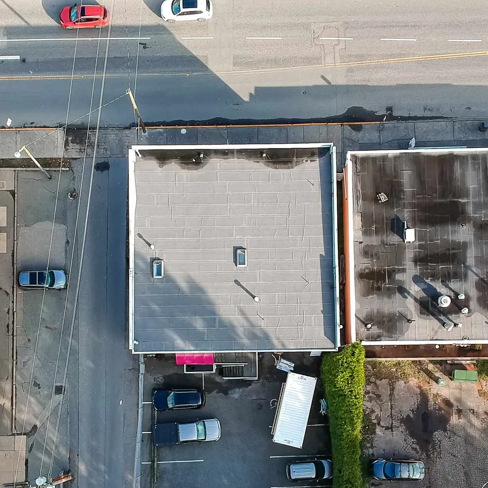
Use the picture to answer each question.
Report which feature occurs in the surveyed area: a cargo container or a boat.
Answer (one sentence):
Visible in the photo is a cargo container.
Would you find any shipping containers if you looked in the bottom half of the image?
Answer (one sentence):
Yes, I can see a shipping container in the bottom half of the image.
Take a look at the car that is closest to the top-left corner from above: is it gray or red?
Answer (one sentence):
The car that is closest to the top-left corner is red.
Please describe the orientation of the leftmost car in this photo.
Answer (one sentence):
I'd say the leftmost car is aligned from side to side in the picture.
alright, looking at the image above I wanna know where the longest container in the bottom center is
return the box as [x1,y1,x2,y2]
[272,372,317,449]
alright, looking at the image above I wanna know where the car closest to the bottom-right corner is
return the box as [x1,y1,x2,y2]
[371,456,425,483]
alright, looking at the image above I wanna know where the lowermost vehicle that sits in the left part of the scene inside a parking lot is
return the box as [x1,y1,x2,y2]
[154,418,222,446]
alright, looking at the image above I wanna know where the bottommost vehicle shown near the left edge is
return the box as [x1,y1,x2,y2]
[17,266,68,292]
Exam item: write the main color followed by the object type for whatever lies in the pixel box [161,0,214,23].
white car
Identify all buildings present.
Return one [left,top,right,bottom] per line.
[343,147,488,349]
[129,143,343,365]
